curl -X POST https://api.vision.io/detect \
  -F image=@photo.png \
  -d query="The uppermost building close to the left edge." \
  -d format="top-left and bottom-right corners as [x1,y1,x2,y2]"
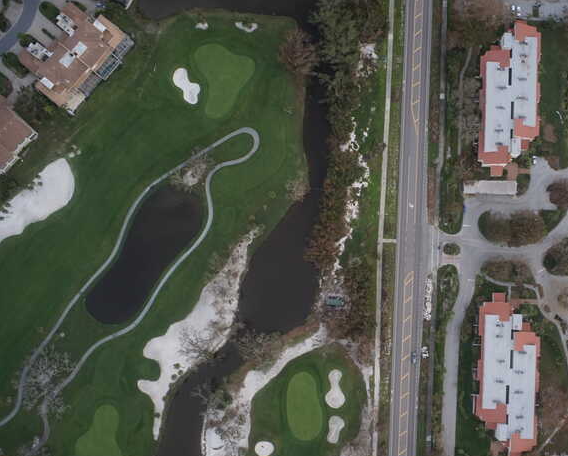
[21,2,136,112]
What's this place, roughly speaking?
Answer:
golf course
